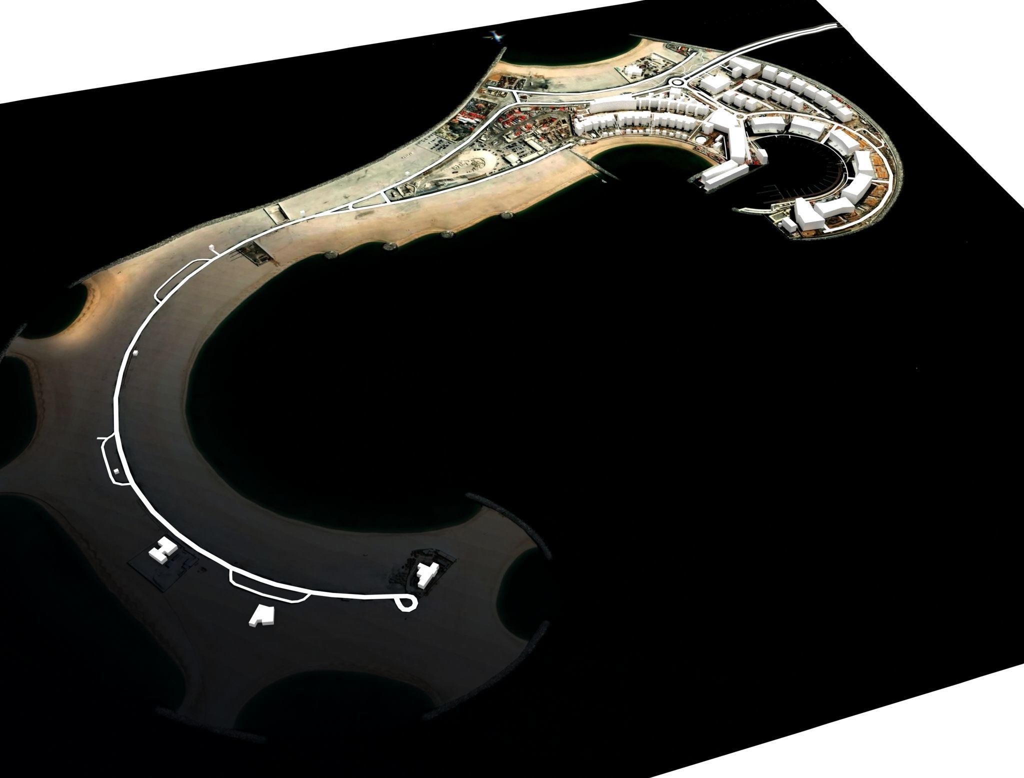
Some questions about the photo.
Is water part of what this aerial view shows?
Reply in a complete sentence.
Yes, there's water in this view.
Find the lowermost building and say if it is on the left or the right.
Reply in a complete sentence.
You can find the lowermost building on the left side of the picture.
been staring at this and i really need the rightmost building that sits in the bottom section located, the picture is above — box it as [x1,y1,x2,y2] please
[417,562,439,589]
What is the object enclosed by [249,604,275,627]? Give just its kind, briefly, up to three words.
building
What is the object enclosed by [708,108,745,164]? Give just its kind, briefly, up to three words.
building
